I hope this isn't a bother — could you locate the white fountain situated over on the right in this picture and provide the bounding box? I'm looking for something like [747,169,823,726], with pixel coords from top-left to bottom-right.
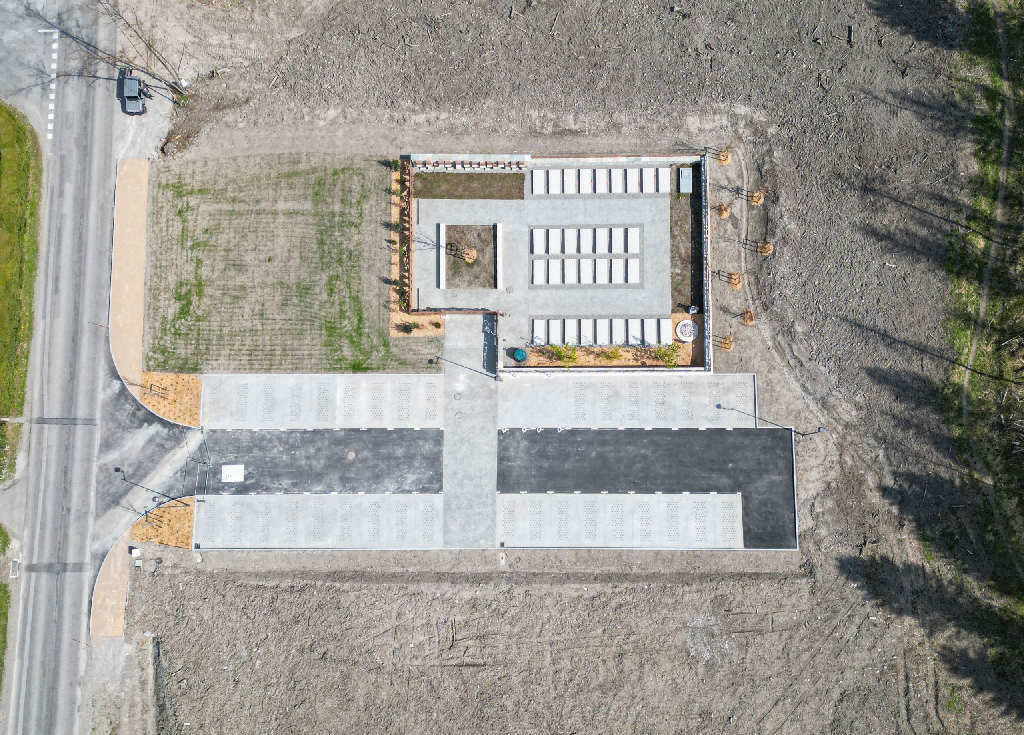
[677,320,698,341]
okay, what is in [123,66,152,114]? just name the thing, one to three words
car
